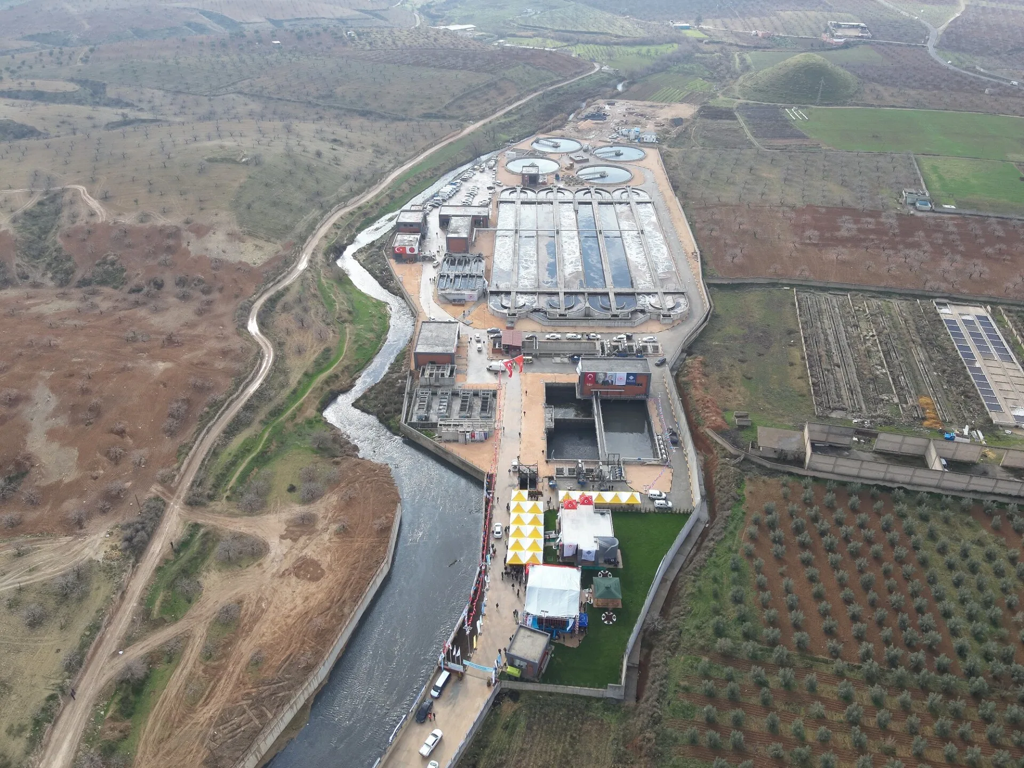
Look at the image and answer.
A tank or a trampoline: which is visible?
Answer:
tank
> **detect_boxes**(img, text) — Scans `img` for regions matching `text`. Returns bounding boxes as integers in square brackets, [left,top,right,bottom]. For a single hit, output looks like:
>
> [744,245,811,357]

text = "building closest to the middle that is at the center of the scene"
[501,330,526,357]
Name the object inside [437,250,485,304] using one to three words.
storage tank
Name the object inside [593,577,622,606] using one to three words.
gazebo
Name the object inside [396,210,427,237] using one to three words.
building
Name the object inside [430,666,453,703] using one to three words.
vehicle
